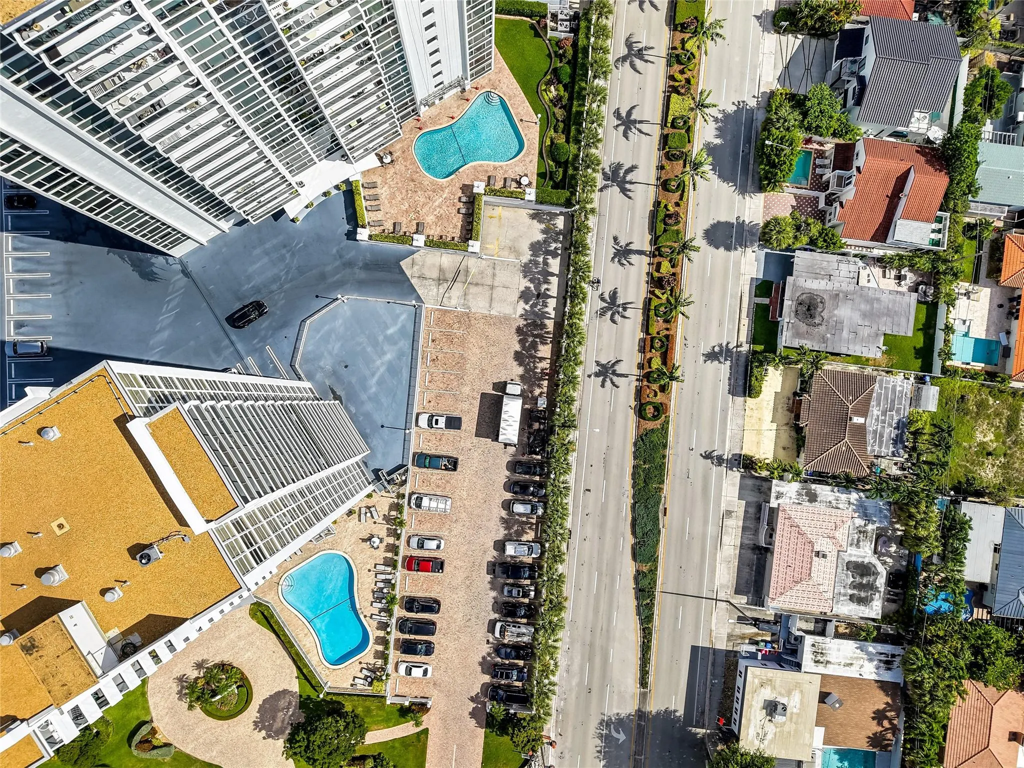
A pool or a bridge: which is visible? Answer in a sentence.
There is a pool in the scene.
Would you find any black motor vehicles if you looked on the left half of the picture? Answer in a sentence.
Yes, a black motor vehicle appears on the left half of the picture.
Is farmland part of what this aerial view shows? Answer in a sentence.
No, there is no farmland in the image.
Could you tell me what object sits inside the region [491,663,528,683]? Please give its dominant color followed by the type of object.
black car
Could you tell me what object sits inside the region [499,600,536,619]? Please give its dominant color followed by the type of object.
black car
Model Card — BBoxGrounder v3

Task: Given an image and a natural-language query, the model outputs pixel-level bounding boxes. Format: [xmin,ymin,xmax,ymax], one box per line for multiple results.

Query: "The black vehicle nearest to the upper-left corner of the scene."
[2,193,42,211]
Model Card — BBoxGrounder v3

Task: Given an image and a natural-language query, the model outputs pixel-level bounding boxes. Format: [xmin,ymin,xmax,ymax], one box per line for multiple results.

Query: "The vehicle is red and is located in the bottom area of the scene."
[406,555,444,573]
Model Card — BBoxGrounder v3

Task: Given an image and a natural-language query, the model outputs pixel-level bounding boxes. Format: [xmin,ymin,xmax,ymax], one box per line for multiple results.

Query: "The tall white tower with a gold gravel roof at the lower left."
[0,355,375,768]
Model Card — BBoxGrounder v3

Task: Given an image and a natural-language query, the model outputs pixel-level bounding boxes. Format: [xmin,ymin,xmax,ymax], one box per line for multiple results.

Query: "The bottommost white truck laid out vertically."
[499,380,524,445]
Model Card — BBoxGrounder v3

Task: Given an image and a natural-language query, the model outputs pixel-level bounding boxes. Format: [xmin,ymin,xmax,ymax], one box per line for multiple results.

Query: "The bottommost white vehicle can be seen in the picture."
[397,659,434,678]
